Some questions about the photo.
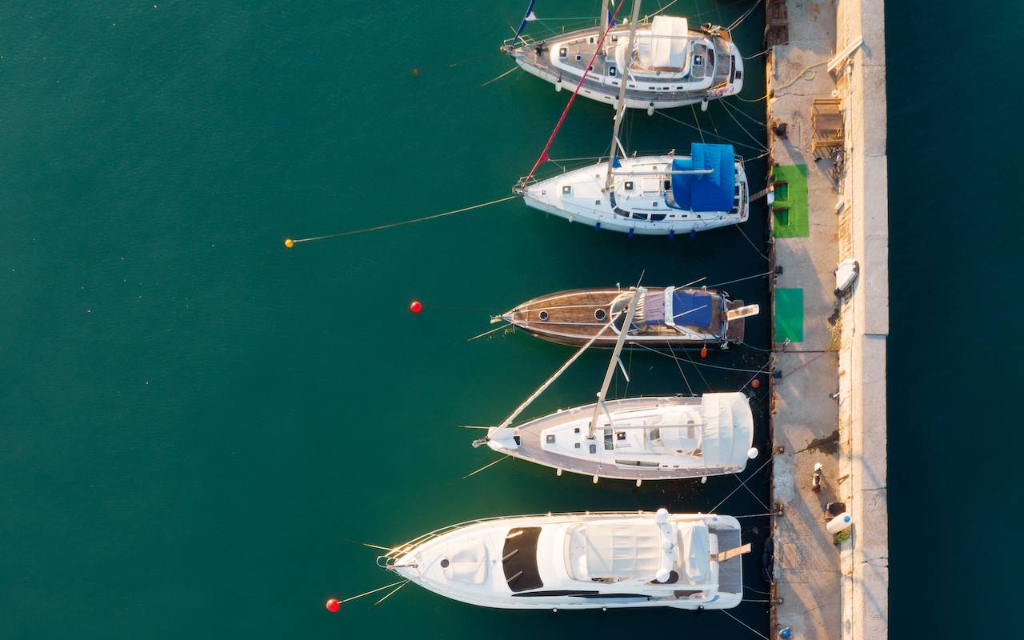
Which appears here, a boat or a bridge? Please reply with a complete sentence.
Looking from above, you can make out a boat.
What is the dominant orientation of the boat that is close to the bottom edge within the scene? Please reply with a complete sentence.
The boat that is close to the bottom edge is laid out horizontally.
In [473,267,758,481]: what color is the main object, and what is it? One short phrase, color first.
white boat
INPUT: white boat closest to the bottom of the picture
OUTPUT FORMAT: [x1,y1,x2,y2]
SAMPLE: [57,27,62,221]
[377,509,754,611]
